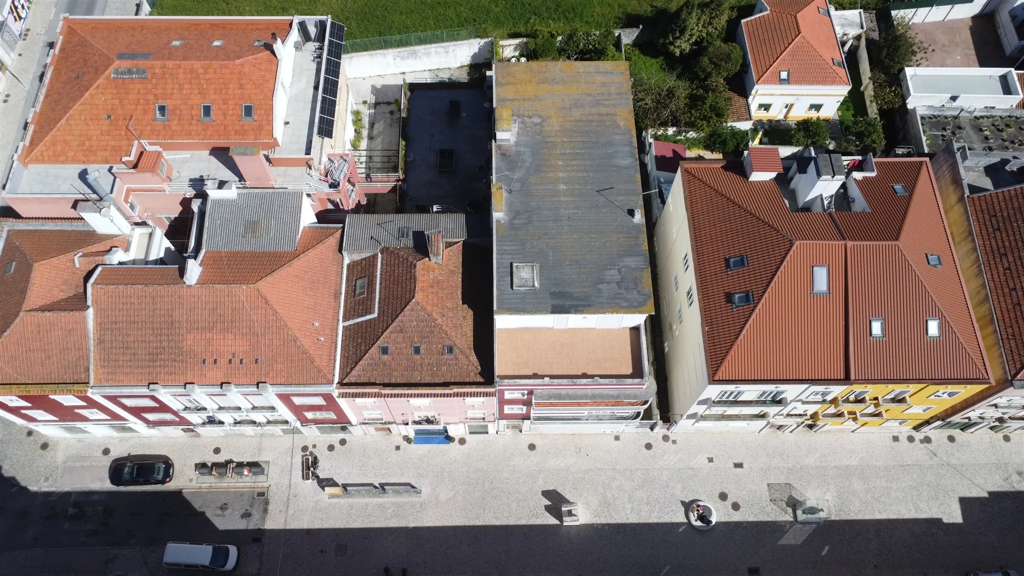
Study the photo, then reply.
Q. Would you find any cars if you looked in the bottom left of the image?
Yes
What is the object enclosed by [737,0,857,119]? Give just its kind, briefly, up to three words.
house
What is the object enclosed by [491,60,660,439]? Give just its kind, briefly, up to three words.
building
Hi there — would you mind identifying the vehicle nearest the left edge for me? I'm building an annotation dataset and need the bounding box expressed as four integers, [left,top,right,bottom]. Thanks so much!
[103,455,173,488]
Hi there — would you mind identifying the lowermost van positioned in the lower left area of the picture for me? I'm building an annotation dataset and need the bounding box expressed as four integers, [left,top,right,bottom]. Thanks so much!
[153,539,239,576]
